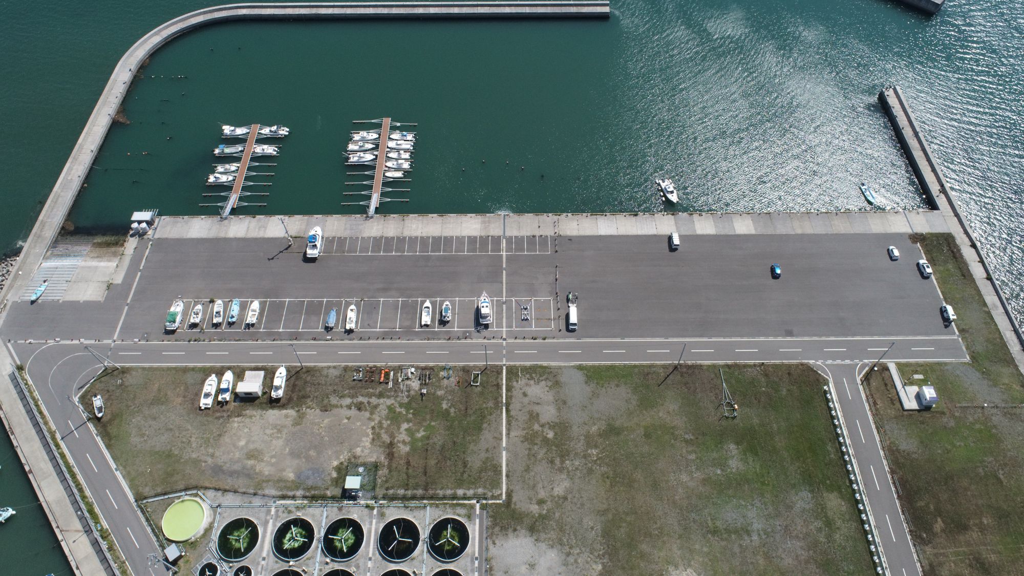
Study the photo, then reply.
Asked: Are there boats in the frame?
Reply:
Yes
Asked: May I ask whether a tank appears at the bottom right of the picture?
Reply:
No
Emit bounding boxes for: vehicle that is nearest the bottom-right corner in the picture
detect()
[942,306,957,322]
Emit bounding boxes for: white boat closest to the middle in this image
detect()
[479,292,492,327]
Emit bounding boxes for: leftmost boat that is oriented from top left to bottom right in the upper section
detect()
[658,179,678,203]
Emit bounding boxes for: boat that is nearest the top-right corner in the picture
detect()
[860,183,874,202]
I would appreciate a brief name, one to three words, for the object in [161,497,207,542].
storage tank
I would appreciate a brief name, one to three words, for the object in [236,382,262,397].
shed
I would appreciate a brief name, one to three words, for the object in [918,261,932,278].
car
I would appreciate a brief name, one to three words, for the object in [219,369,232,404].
boat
